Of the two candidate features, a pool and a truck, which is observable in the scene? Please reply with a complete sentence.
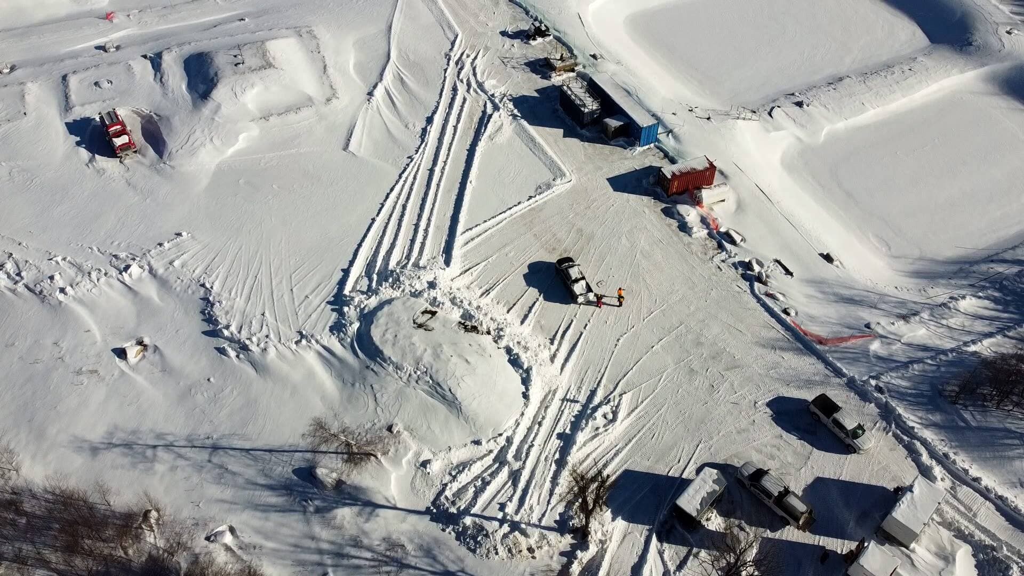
The image shows a truck.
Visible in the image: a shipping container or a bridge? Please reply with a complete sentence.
It is a shipping container that can be seen here.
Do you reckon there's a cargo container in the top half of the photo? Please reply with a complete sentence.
Yes, a cargo container is visible in the top half of the photo.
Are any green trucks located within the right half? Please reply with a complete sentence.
No, there is no green truck within the right half.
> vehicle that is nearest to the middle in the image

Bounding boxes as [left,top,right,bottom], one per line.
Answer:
[556,257,595,307]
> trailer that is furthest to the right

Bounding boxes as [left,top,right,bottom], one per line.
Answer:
[886,472,949,539]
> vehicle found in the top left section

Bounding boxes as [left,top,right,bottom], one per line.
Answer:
[100,113,141,163]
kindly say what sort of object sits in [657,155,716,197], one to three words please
shipping container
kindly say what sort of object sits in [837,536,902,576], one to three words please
trailer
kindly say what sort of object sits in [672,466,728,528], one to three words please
trailer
